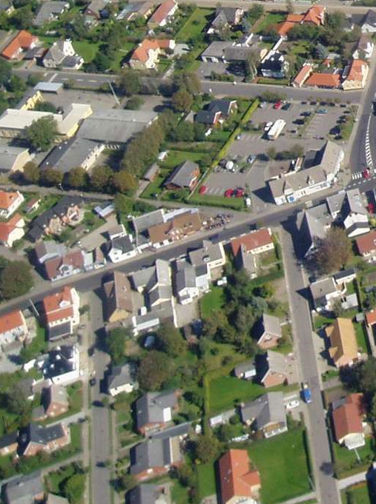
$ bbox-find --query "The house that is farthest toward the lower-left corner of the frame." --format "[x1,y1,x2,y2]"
[6,465,46,504]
